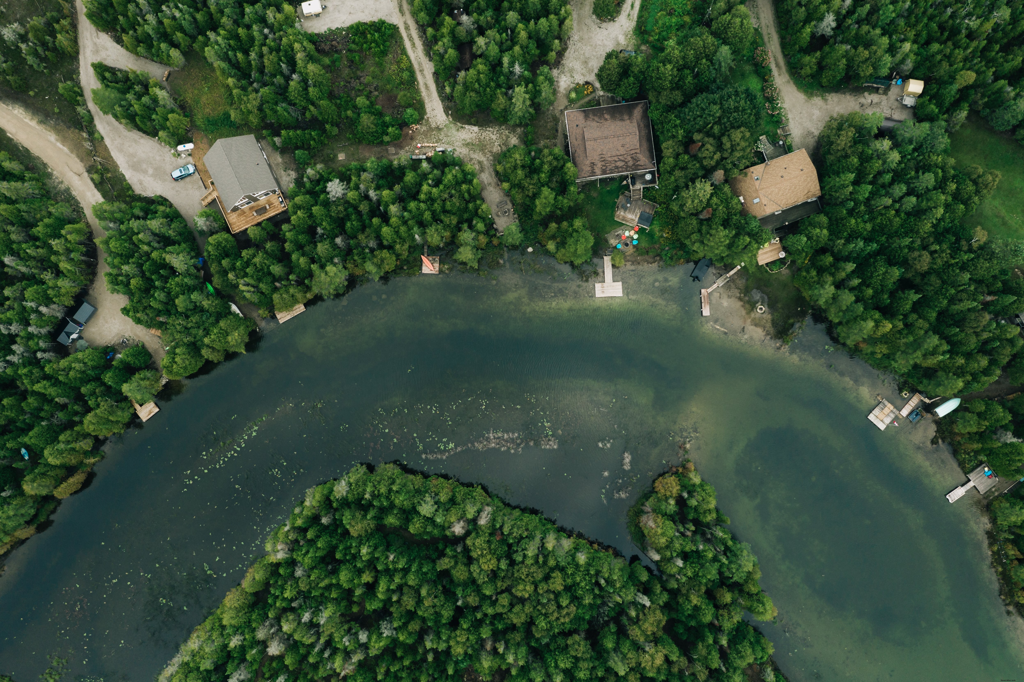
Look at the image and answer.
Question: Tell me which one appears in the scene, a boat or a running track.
boat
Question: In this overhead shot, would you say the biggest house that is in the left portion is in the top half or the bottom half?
top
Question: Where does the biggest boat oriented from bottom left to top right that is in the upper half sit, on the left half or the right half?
right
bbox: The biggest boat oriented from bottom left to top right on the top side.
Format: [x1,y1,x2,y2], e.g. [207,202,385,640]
[690,258,712,282]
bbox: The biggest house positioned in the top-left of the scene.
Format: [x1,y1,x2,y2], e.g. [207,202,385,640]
[198,134,294,234]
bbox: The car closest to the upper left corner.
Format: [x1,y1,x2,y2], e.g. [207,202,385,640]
[170,164,197,182]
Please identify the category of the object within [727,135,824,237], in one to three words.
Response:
house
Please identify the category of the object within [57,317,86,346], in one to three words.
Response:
shed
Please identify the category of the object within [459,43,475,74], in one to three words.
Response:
building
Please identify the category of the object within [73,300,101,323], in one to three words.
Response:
shed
